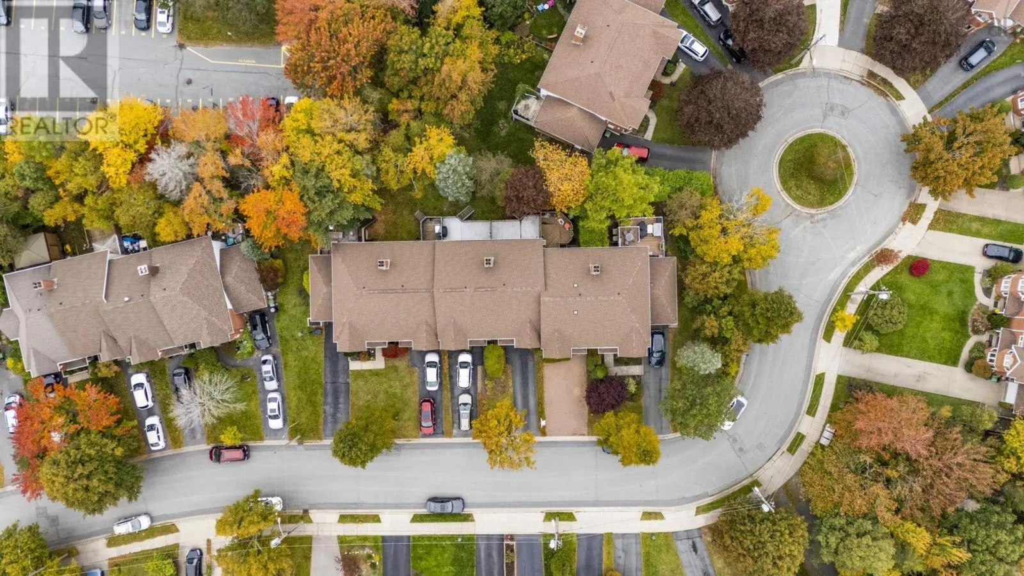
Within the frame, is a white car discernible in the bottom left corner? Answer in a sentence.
Yes, a white car can be seen in the bottom left corner.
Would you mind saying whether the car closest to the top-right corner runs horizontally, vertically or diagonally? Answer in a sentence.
The car closest to the top-right corner runs diagonally in the image.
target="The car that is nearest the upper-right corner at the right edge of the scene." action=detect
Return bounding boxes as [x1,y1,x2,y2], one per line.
[959,38,995,72]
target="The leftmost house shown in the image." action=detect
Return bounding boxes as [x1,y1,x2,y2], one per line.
[0,249,123,378]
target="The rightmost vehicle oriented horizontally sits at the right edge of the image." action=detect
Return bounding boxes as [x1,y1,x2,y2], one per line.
[981,244,1021,263]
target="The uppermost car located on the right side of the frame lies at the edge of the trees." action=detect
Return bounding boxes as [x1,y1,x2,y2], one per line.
[687,0,722,29]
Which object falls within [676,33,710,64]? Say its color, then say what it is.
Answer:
white car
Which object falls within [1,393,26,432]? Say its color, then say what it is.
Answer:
white car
